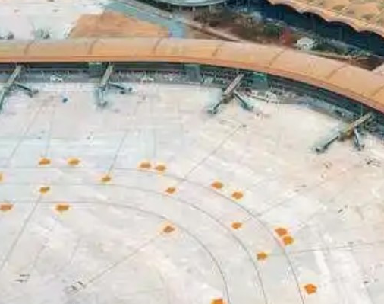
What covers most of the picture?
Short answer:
paved ground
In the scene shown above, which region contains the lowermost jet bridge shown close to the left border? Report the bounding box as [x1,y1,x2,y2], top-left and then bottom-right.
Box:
[0,65,37,113]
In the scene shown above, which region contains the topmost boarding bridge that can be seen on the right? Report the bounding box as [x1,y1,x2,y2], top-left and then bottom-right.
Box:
[209,73,255,115]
